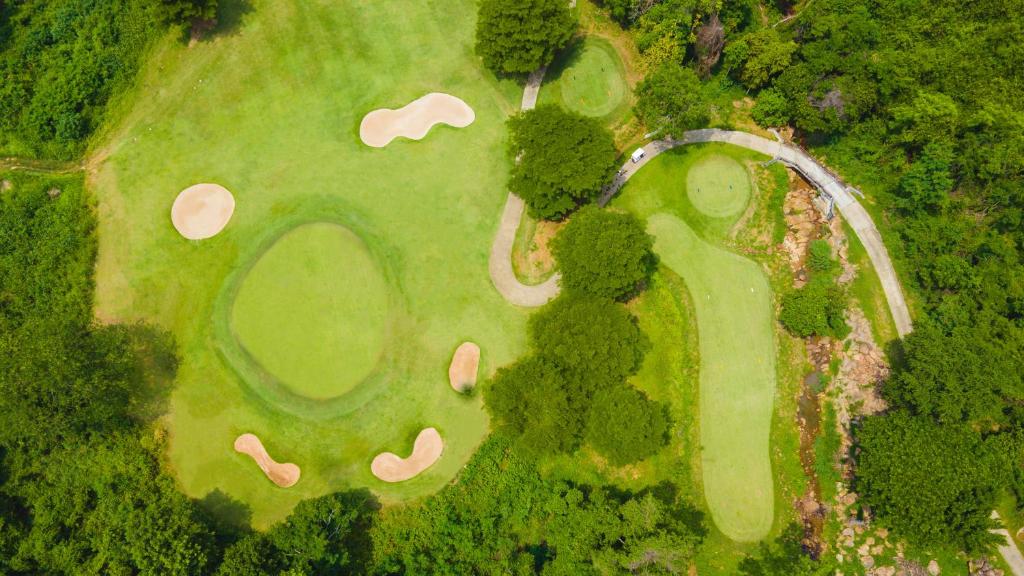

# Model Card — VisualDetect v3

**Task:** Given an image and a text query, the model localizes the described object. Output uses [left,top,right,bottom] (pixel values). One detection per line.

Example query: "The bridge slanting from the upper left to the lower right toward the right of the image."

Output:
[762,133,865,221]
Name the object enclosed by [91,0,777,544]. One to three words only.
golf course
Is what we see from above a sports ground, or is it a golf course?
golf course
